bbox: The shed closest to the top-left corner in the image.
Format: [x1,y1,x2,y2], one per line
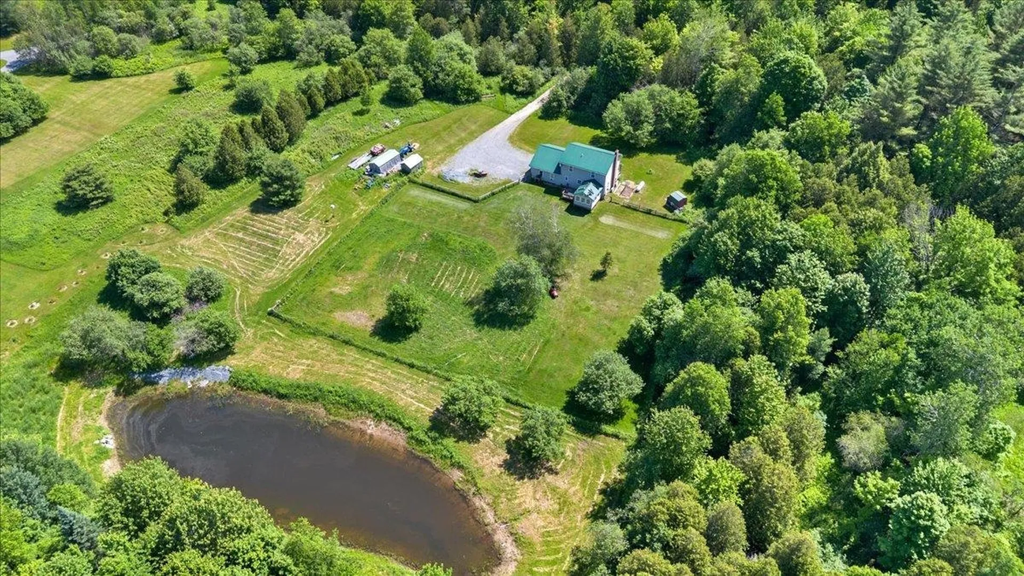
[370,148,400,174]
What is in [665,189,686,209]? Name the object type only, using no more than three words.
shed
